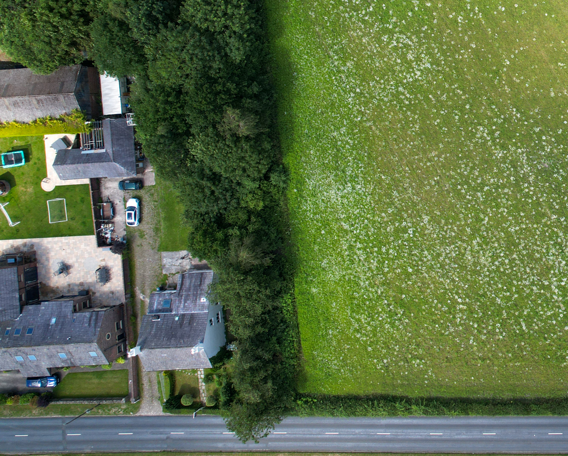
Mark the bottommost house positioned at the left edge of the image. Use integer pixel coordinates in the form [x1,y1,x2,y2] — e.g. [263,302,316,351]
[0,263,124,378]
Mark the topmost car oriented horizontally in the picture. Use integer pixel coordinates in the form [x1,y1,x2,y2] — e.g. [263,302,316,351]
[119,179,144,191]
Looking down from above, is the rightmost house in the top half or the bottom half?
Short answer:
bottom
